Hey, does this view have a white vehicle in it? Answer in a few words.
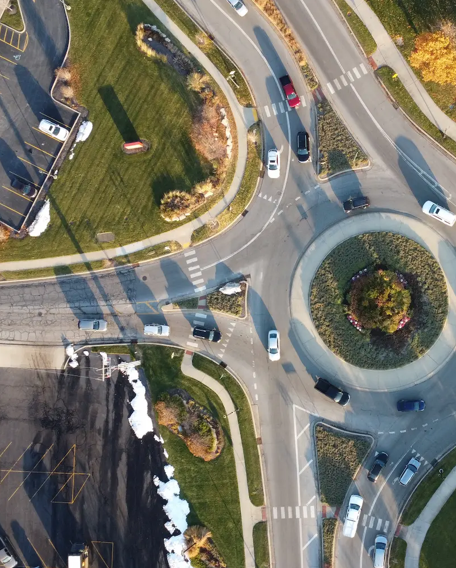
Yes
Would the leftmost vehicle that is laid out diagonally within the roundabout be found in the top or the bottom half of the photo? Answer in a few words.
bottom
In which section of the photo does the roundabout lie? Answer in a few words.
right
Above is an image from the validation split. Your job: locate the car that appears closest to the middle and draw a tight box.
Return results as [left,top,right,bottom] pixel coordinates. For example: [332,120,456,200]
[191,325,224,343]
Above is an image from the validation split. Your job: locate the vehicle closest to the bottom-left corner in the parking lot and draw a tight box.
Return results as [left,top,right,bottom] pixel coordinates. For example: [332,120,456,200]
[0,533,19,568]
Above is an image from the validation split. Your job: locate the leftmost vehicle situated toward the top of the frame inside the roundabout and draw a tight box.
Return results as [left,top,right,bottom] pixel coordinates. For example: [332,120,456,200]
[342,196,371,212]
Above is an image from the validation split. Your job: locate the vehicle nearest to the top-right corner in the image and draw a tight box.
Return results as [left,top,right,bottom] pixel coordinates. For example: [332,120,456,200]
[278,74,302,111]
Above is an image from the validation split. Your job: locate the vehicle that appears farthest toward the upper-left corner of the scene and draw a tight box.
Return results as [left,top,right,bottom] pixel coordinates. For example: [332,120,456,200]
[37,118,72,141]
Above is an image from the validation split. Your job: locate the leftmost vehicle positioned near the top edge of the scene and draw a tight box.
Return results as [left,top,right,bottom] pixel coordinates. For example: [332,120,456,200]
[226,0,249,19]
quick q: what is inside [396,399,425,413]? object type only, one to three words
vehicle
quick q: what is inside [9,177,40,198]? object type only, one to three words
car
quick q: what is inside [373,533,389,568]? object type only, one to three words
vehicle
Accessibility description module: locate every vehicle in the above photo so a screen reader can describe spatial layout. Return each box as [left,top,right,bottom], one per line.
[396,454,421,487]
[68,535,91,568]
[0,533,19,568]
[142,322,171,337]
[342,196,371,212]
[278,74,302,111]
[295,132,311,164]
[396,399,425,413]
[344,492,362,538]
[226,0,249,19]
[421,202,456,227]
[78,317,108,333]
[266,330,282,361]
[313,377,352,406]
[191,325,224,343]
[9,177,40,198]
[373,533,389,568]
[366,450,389,483]
[37,118,72,141]
[266,149,282,180]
